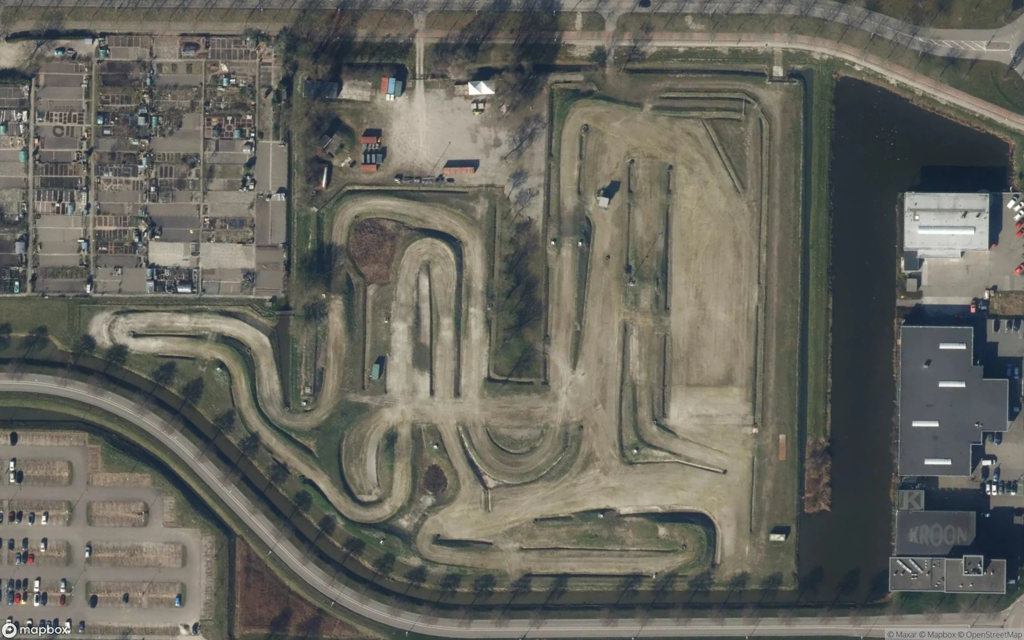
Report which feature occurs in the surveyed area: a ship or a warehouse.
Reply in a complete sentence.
This aerial view contains a warehouse.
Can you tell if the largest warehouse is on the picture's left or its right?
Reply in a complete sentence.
The largest warehouse is on the right side of the image.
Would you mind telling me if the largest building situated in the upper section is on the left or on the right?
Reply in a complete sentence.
The largest building situated in the upper section sits on the right side.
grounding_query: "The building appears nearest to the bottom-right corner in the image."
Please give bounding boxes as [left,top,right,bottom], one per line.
[944,548,1006,593]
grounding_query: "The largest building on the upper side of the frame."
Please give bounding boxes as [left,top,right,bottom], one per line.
[903,191,989,271]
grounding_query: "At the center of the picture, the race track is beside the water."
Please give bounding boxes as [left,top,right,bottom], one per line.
[87,92,771,576]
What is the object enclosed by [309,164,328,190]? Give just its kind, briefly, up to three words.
barn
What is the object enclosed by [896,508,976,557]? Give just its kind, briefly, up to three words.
building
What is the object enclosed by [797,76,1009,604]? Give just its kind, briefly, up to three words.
pond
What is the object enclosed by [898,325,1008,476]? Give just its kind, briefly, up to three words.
warehouse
